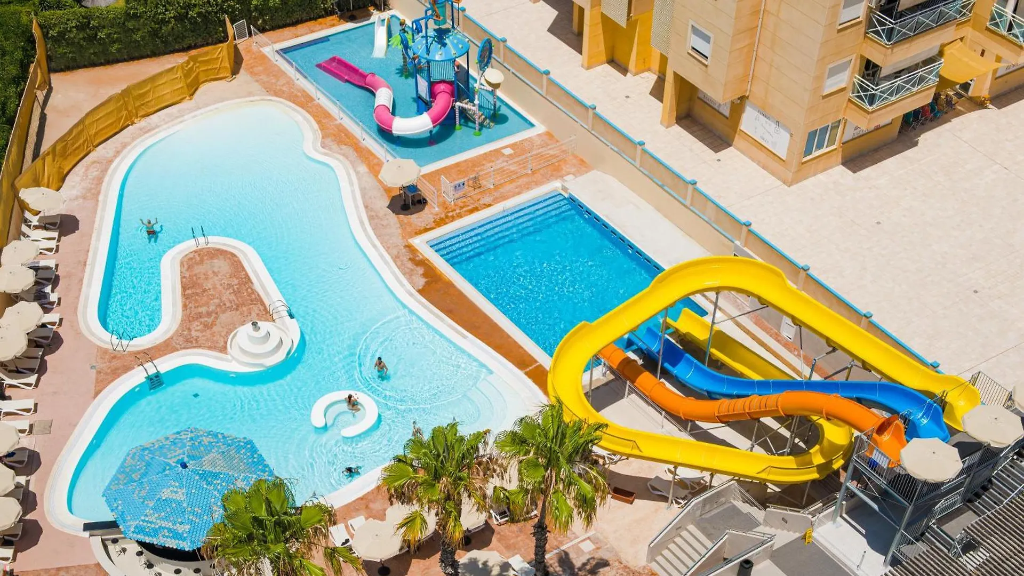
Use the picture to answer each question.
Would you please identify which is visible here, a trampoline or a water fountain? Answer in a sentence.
Of the two, only a water fountain appears.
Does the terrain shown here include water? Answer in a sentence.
Yes, water shows up in the scene.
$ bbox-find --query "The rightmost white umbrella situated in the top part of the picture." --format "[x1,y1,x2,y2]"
[379,163,420,209]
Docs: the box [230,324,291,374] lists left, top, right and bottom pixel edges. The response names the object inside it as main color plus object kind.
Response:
white fountain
